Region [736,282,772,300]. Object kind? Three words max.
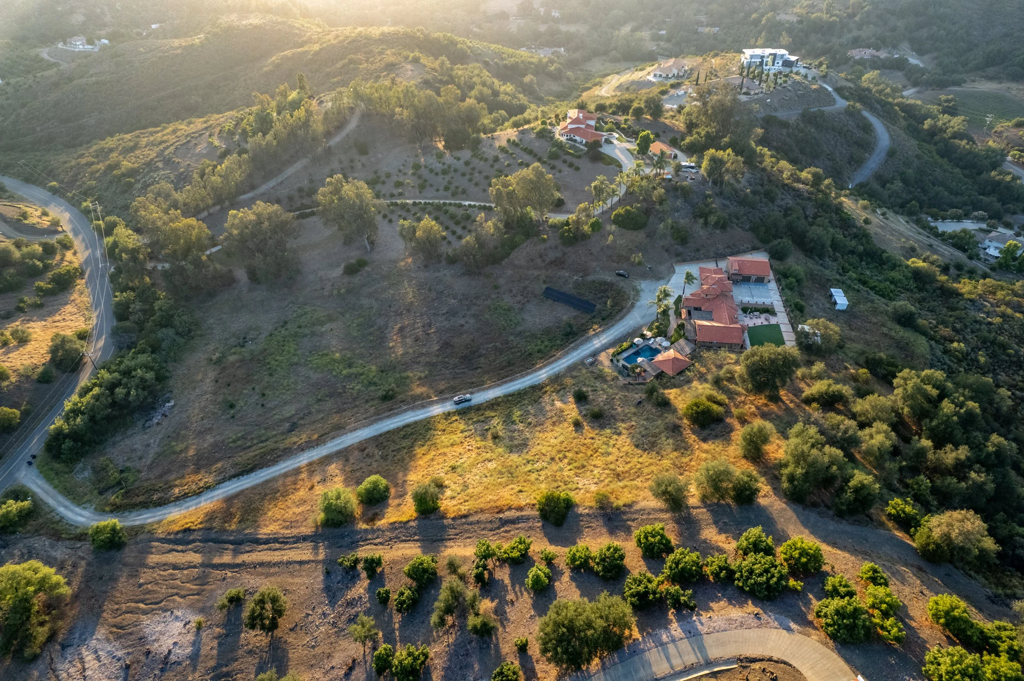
sports court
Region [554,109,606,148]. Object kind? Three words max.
house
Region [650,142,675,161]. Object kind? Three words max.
building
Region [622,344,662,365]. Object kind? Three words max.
swimming pool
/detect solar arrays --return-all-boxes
[542,287,596,314]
